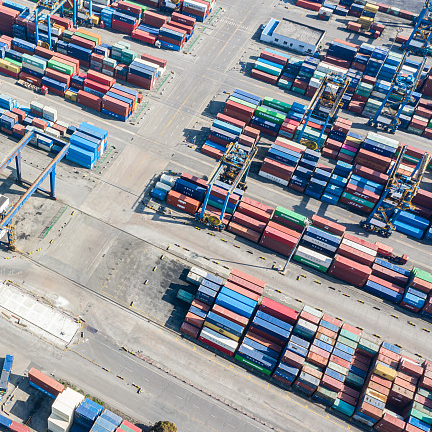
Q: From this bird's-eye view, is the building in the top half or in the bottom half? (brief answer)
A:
top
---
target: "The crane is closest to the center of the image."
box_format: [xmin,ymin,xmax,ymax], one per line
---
[193,140,259,230]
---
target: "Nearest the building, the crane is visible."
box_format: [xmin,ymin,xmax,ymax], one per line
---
[290,70,352,154]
